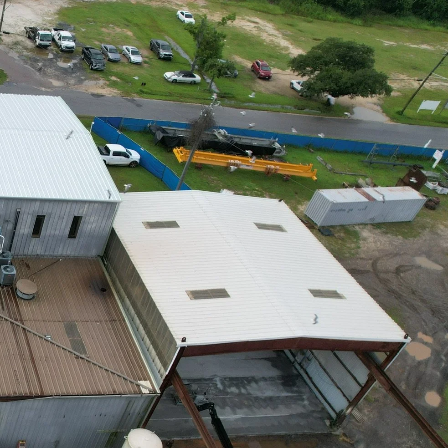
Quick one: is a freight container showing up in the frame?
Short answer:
Yes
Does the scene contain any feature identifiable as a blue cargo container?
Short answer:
No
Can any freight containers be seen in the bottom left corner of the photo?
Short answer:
No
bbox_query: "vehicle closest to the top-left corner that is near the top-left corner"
[28,25,55,47]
